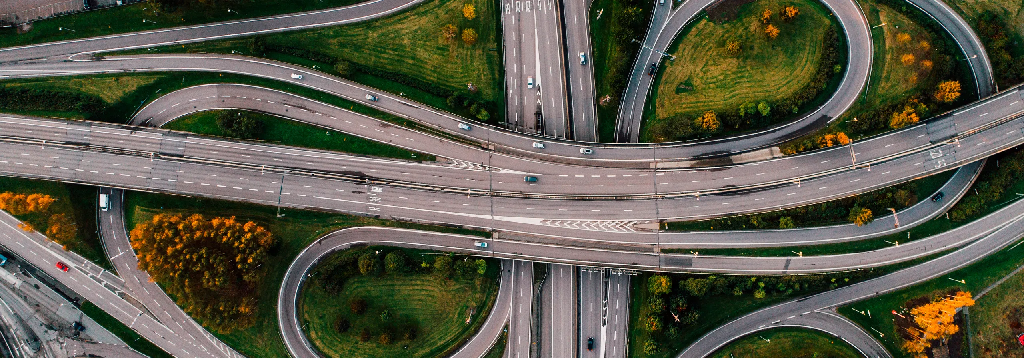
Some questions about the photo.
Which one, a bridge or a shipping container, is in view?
bridge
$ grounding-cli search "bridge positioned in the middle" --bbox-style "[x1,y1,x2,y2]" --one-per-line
[432,107,660,272]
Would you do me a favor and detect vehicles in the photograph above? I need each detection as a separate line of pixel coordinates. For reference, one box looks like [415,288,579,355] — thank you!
[931,192,943,202]
[473,241,488,247]
[291,73,302,79]
[365,94,378,102]
[532,142,545,149]
[579,52,585,65]
[99,194,109,210]
[458,123,471,130]
[588,338,593,351]
[0,254,9,264]
[527,76,533,88]
[524,176,538,182]
[72,322,86,331]
[580,148,593,154]
[648,62,656,76]
[82,0,90,10]
[55,262,69,272]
